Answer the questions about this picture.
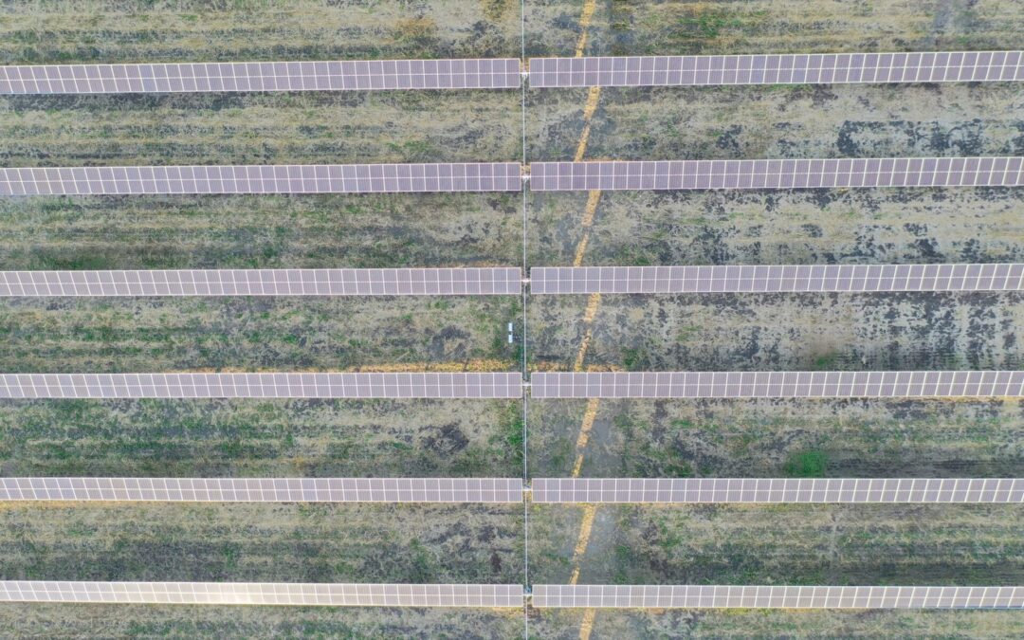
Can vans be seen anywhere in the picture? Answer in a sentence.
No, I can see no van in this picture.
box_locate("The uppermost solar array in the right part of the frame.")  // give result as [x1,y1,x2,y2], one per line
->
[530,52,1024,86]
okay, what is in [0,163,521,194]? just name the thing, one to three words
solar array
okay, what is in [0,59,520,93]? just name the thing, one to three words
solar array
